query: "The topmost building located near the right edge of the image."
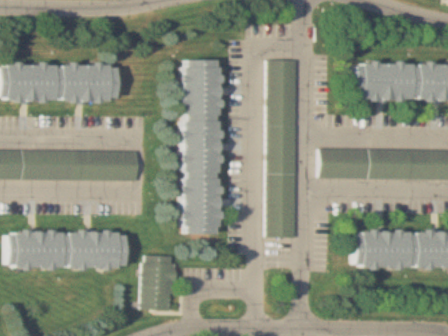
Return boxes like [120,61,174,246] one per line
[349,62,448,103]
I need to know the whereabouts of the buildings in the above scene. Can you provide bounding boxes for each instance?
[176,60,225,234]
[348,230,448,271]
[0,150,138,180]
[0,230,129,271]
[262,60,295,238]
[316,148,448,180]
[132,256,172,311]
[349,62,448,103]
[0,62,121,104]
